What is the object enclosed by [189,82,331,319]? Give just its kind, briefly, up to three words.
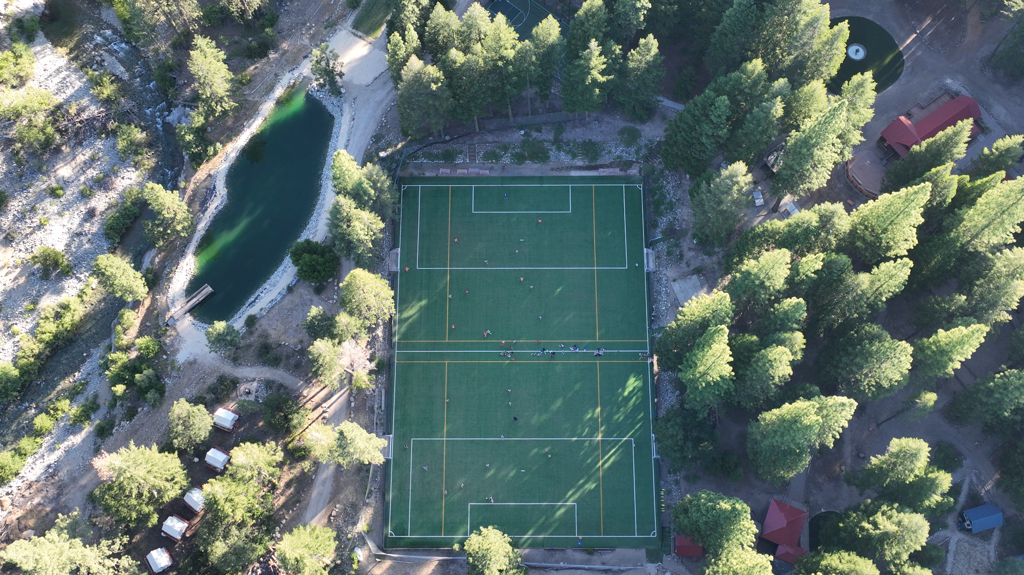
pond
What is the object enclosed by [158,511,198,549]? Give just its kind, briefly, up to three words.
tent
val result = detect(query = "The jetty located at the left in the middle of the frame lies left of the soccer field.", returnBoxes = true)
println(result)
[165,282,213,326]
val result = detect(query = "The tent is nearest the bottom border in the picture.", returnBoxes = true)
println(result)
[143,543,181,575]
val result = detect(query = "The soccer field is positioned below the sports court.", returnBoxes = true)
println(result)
[384,176,661,549]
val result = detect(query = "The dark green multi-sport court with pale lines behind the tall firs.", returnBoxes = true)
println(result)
[464,0,619,89]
